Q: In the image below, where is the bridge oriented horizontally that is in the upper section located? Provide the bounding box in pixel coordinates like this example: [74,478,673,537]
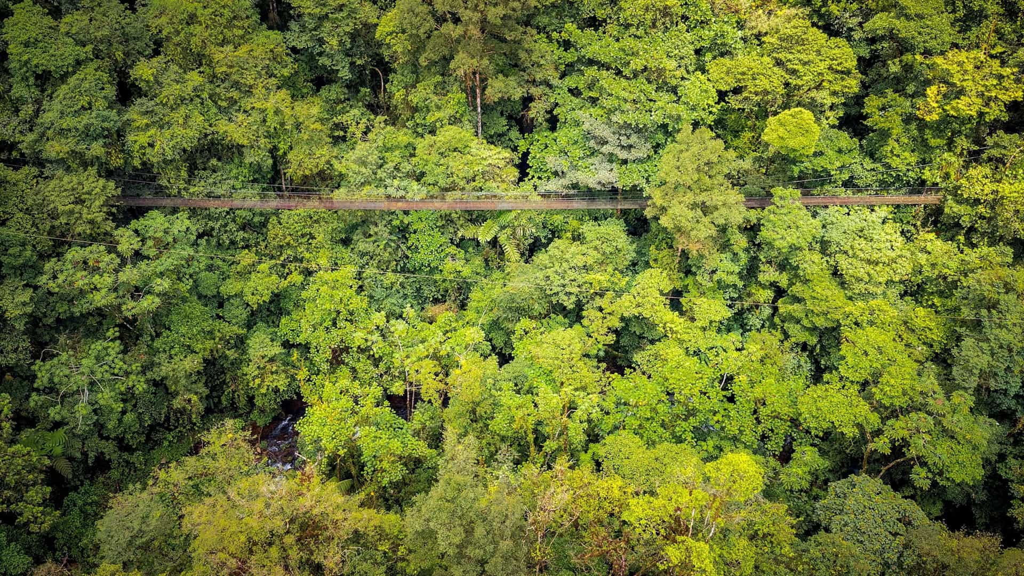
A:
[6,155,1013,212]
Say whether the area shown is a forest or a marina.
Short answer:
forest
